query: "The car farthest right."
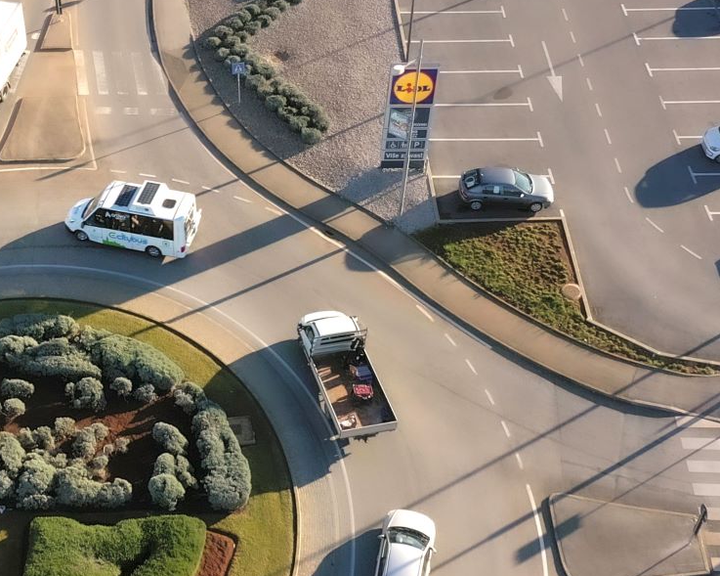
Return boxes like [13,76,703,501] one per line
[699,121,720,158]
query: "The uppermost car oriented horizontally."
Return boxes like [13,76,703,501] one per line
[457,165,555,212]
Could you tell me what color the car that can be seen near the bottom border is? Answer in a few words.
white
